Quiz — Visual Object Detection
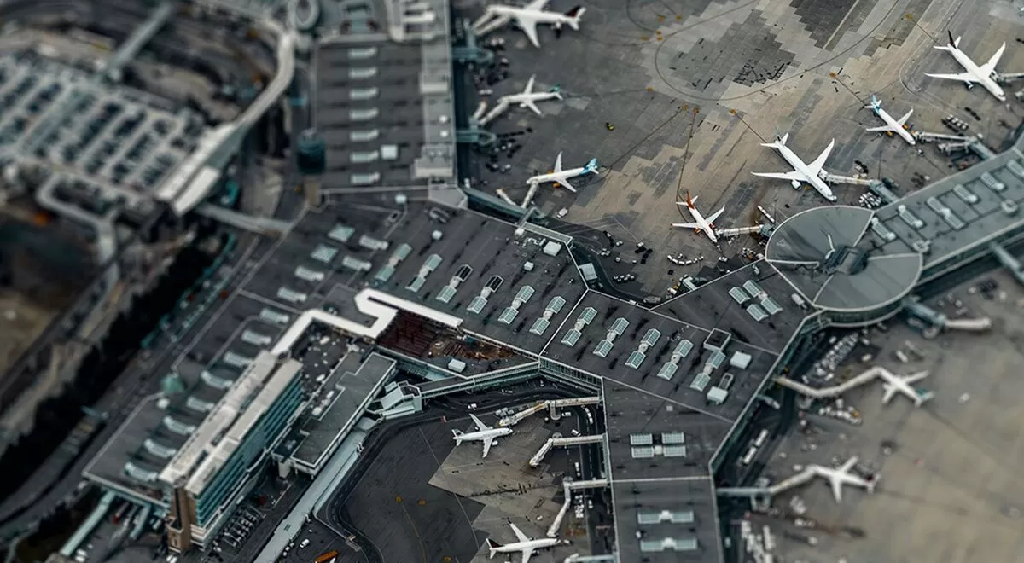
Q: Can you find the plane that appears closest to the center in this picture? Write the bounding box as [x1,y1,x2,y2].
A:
[540,151,599,194]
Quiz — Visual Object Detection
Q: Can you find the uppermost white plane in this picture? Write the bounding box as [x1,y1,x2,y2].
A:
[490,0,582,42]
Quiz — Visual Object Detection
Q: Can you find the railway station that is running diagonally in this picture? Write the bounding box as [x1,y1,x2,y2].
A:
[159,107,254,226]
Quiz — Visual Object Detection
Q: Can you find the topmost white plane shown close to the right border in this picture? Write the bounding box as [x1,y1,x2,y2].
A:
[926,36,1006,102]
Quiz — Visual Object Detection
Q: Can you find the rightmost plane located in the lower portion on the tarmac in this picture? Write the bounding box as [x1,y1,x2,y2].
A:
[876,370,929,410]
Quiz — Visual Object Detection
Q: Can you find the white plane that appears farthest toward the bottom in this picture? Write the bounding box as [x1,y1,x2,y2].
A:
[486,519,561,563]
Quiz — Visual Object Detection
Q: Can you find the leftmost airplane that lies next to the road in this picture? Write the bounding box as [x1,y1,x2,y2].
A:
[449,411,513,457]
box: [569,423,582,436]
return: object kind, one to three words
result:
vehicle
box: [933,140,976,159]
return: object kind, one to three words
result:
jet bridge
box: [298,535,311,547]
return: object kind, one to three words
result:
vehicle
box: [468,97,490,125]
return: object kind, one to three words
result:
jet bridge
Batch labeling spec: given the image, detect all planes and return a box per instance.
[540,151,599,194]
[864,100,915,145]
[876,370,929,410]
[926,36,1006,102]
[486,519,561,563]
[449,411,513,457]
[754,132,837,201]
[815,457,876,500]
[490,0,582,42]
[497,74,563,116]
[670,201,724,244]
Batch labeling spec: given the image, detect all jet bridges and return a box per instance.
[518,177,541,211]
[759,465,820,499]
[560,553,616,563]
[494,393,602,431]
[466,9,501,54]
[820,173,878,189]
[470,98,513,138]
[544,478,609,541]
[771,366,886,404]
[713,224,771,244]
[467,12,517,42]
[912,131,996,156]
[940,319,997,337]
[991,71,1024,87]
[524,433,605,471]
[933,140,976,159]
[468,97,490,125]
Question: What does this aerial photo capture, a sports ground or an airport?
airport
